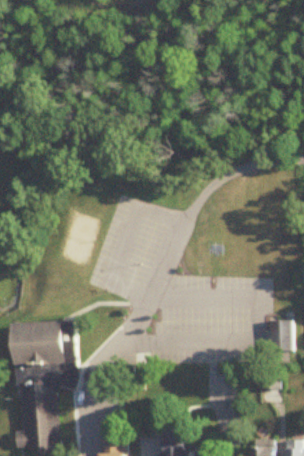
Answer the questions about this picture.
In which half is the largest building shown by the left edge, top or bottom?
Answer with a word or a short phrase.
bottom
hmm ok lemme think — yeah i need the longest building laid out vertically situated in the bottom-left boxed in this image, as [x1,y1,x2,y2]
[8,322,66,450]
